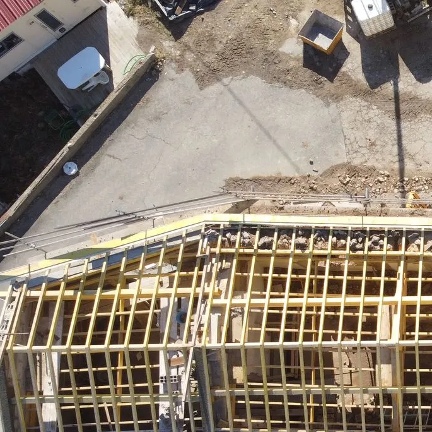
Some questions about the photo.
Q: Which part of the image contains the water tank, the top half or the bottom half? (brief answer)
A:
top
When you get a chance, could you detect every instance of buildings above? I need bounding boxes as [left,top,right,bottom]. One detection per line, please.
[0,0,105,82]
[0,212,432,432]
